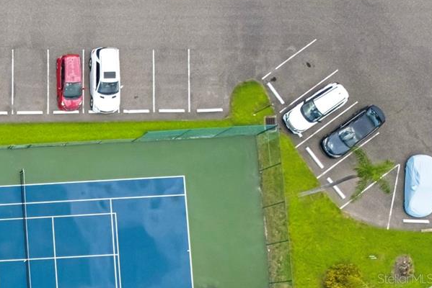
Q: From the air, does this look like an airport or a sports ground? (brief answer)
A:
sports ground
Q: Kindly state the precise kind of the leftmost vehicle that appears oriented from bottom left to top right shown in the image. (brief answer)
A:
automobile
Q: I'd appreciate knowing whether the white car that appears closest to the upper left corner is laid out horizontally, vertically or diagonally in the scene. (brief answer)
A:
vertically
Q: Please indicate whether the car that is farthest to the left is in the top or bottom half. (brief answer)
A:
top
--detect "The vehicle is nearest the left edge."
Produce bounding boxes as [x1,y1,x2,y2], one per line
[55,53,87,111]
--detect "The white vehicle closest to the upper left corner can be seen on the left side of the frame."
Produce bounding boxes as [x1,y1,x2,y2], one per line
[88,44,124,114]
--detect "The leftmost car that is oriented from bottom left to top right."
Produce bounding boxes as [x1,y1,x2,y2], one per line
[286,79,355,133]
